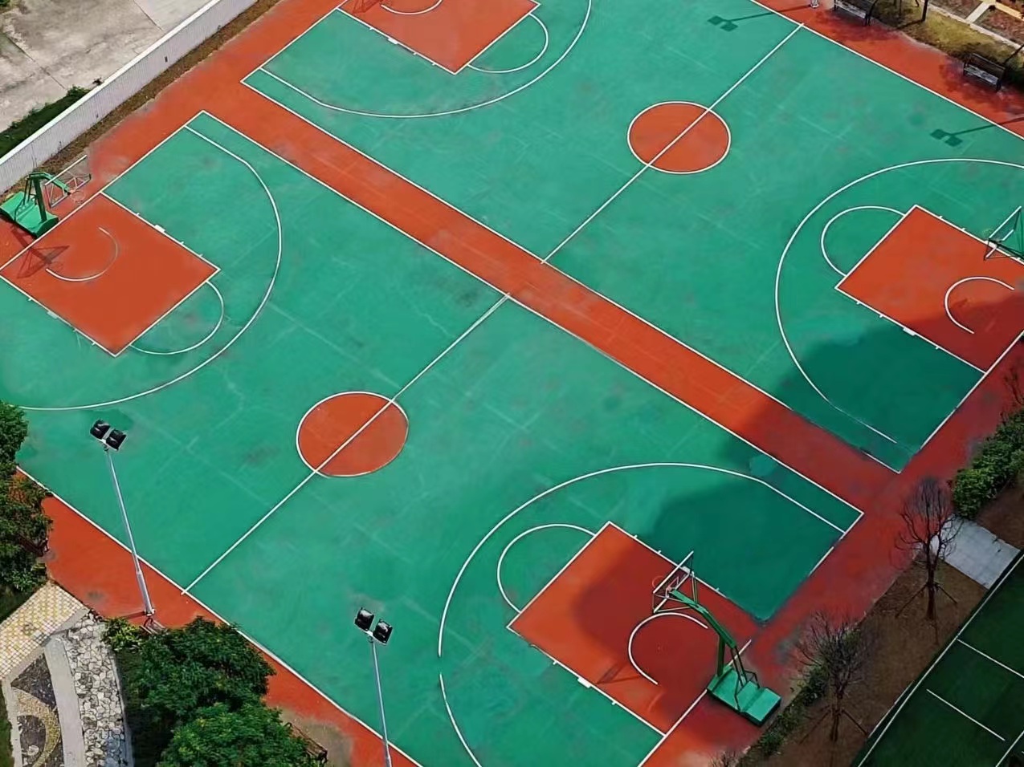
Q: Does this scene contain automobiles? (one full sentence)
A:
No, there appears to be no automobile in this shot.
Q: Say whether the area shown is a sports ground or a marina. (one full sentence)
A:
The picture captures a sports ground.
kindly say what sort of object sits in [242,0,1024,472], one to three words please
basketball court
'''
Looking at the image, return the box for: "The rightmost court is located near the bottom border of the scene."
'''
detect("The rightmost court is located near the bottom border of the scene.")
[849,554,1024,767]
